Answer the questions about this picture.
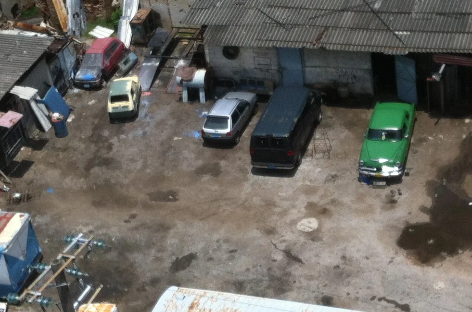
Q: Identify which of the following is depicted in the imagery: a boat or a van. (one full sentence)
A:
The one in the frame is a van.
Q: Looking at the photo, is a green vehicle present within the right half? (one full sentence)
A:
Yes, looking within the right half, one can make out a green vehicle.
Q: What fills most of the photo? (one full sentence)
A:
For the most part, this view shows paved ground.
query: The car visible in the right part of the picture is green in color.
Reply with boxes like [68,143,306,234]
[360,104,417,177]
